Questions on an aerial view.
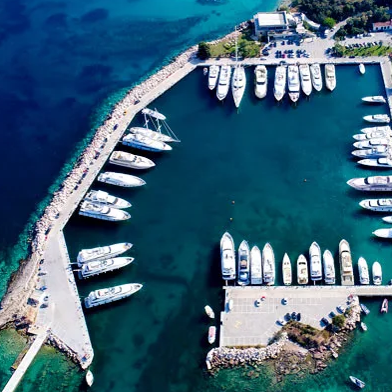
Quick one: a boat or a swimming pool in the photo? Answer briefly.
boat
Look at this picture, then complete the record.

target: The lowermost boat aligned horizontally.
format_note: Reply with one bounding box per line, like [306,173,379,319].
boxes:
[77,283,142,309]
